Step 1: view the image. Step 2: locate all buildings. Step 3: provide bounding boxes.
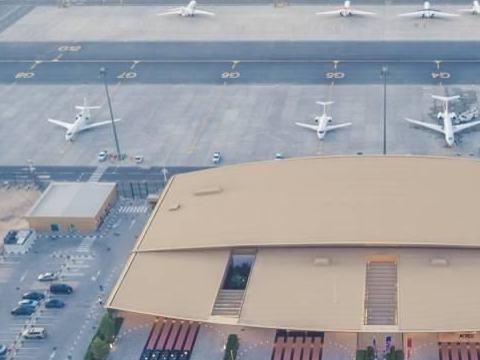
[103,155,480,334]
[21,181,118,235]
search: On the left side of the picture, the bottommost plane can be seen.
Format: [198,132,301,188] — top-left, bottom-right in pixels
[47,97,121,141]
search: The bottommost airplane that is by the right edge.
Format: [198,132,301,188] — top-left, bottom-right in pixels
[405,96,480,146]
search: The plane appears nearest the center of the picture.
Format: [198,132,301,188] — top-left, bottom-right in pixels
[295,101,351,143]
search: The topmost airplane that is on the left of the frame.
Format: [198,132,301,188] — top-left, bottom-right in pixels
[154,2,215,18]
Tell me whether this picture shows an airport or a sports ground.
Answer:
airport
